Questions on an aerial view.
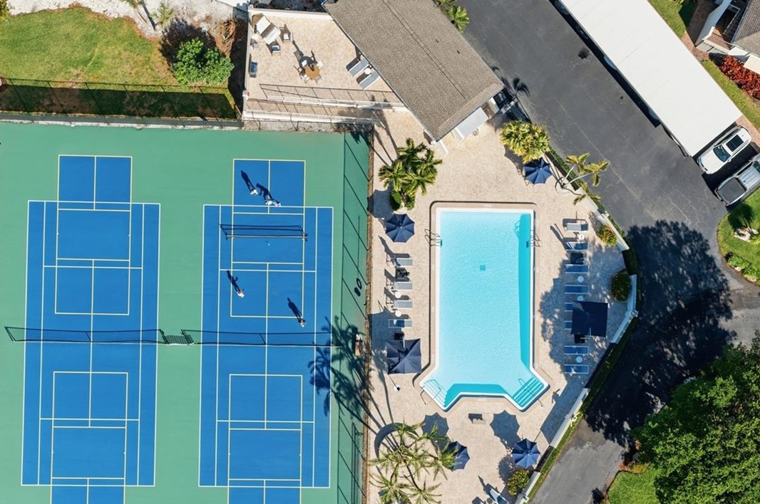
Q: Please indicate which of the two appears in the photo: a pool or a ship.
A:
pool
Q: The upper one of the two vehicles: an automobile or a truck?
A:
automobile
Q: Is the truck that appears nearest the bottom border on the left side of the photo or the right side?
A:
right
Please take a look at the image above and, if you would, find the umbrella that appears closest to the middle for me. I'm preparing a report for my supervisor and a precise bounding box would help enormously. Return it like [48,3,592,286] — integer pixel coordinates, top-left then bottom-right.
[384,214,415,243]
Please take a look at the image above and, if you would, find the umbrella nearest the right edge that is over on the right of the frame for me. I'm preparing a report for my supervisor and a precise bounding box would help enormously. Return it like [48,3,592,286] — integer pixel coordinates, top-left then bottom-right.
[572,302,605,346]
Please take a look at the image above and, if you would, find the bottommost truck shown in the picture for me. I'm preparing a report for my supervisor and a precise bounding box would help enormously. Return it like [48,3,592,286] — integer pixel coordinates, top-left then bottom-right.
[713,154,760,208]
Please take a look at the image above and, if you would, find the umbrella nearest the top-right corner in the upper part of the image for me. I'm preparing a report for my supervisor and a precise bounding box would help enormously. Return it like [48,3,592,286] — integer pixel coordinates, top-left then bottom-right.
[524,157,552,186]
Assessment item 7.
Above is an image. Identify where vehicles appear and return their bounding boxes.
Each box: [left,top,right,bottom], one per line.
[713,154,760,208]
[696,126,750,175]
